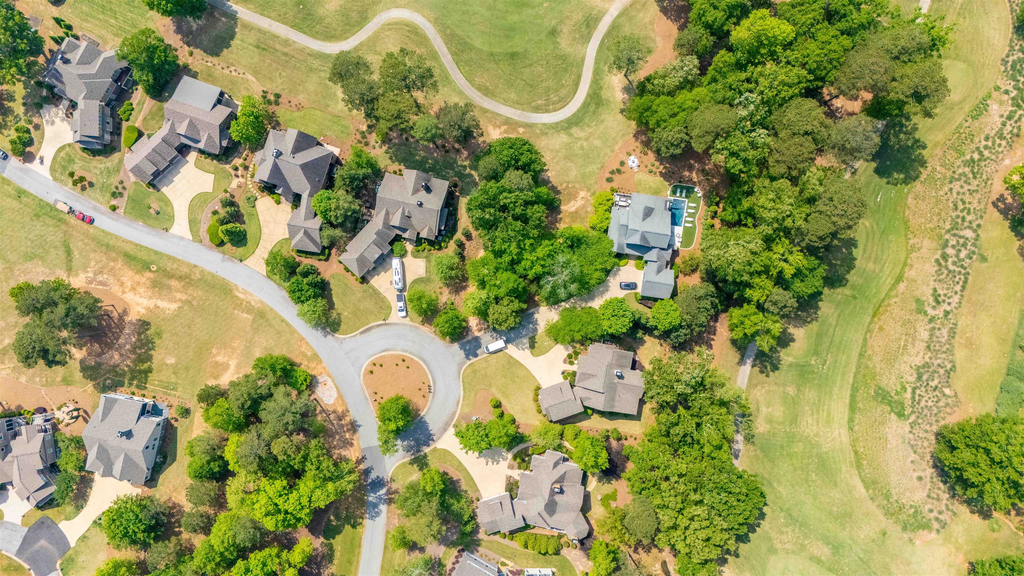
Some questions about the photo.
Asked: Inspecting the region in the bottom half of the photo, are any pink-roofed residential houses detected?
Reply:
No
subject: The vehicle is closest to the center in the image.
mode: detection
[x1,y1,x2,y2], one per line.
[483,338,508,354]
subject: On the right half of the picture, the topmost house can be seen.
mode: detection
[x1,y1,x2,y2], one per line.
[608,193,675,297]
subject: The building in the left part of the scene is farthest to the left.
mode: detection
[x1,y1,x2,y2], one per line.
[0,413,58,506]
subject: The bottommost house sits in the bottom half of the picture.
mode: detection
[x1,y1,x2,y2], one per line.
[453,547,499,576]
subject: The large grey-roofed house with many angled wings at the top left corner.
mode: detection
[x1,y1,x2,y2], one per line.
[46,37,130,149]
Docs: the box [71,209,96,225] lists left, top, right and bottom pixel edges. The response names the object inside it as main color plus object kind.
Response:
red vehicle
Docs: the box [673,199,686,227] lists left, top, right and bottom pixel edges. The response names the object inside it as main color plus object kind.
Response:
blue swimming pool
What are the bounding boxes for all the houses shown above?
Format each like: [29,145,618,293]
[46,37,130,149]
[79,392,170,484]
[477,451,588,540]
[608,193,675,297]
[0,413,58,506]
[128,75,235,185]
[250,129,341,253]
[453,547,499,576]
[539,343,645,421]
[336,170,449,282]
